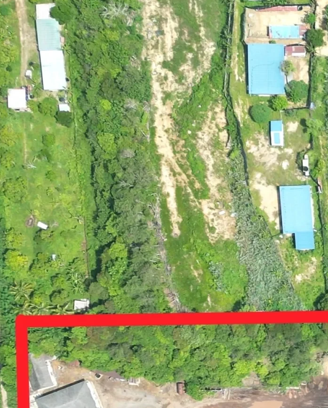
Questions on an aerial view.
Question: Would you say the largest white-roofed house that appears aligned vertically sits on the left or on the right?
left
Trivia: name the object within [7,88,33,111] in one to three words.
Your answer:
house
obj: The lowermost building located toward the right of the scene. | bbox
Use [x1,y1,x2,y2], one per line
[280,185,317,252]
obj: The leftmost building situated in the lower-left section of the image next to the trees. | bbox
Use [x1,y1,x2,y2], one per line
[27,355,61,392]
